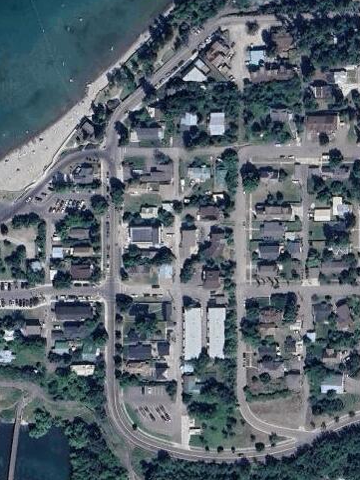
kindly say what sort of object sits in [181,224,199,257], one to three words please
house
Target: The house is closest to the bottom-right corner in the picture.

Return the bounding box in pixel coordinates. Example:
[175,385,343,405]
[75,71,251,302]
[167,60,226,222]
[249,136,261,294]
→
[321,375,346,396]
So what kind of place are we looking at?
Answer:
residential area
